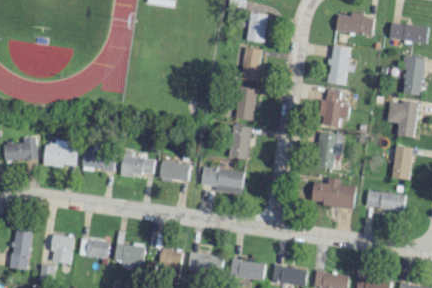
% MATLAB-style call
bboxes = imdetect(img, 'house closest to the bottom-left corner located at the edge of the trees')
[9,232,32,270]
